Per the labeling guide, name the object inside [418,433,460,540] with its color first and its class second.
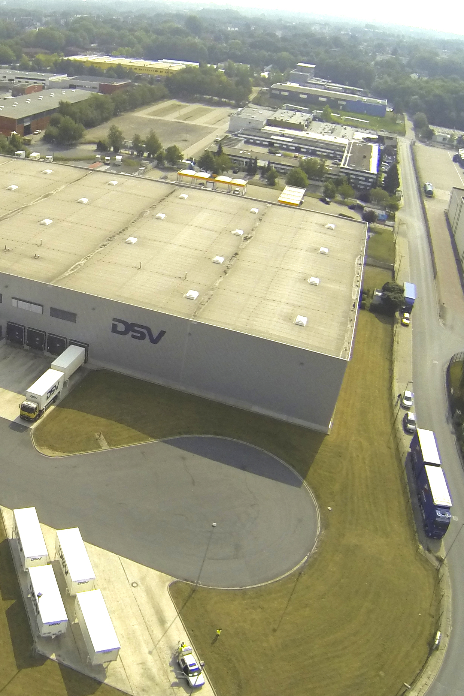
white truck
